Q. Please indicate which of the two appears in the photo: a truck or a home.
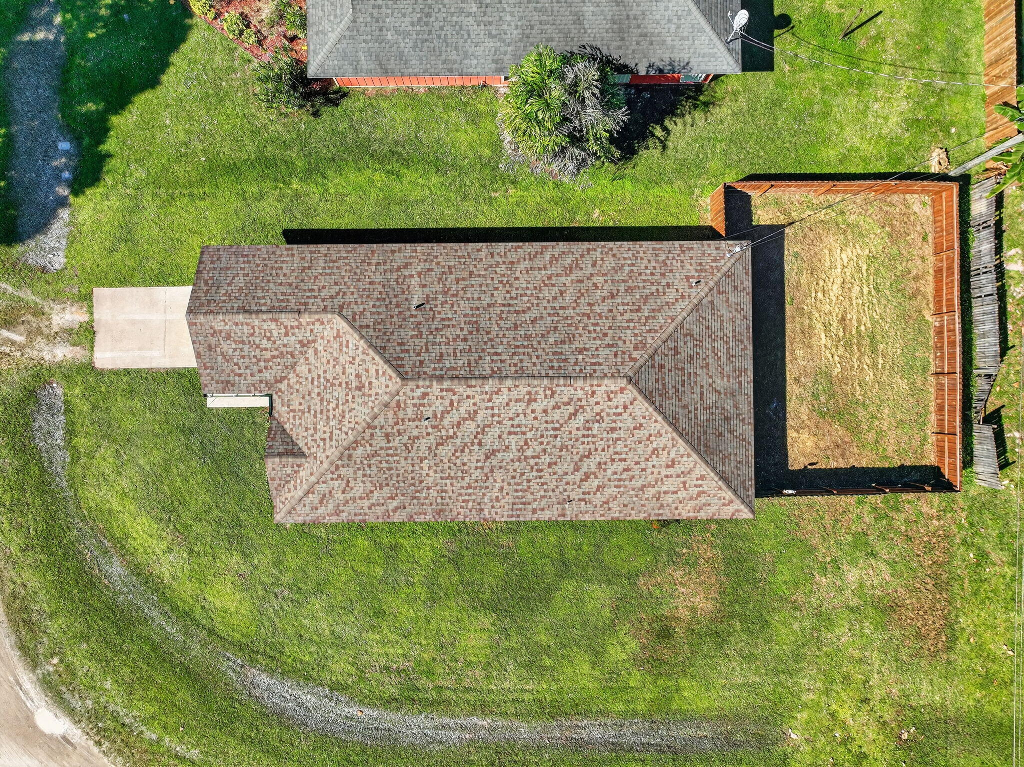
home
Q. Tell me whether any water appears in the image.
No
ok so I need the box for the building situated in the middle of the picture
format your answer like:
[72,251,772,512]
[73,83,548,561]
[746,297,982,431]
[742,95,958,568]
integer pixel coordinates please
[187,242,754,524]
